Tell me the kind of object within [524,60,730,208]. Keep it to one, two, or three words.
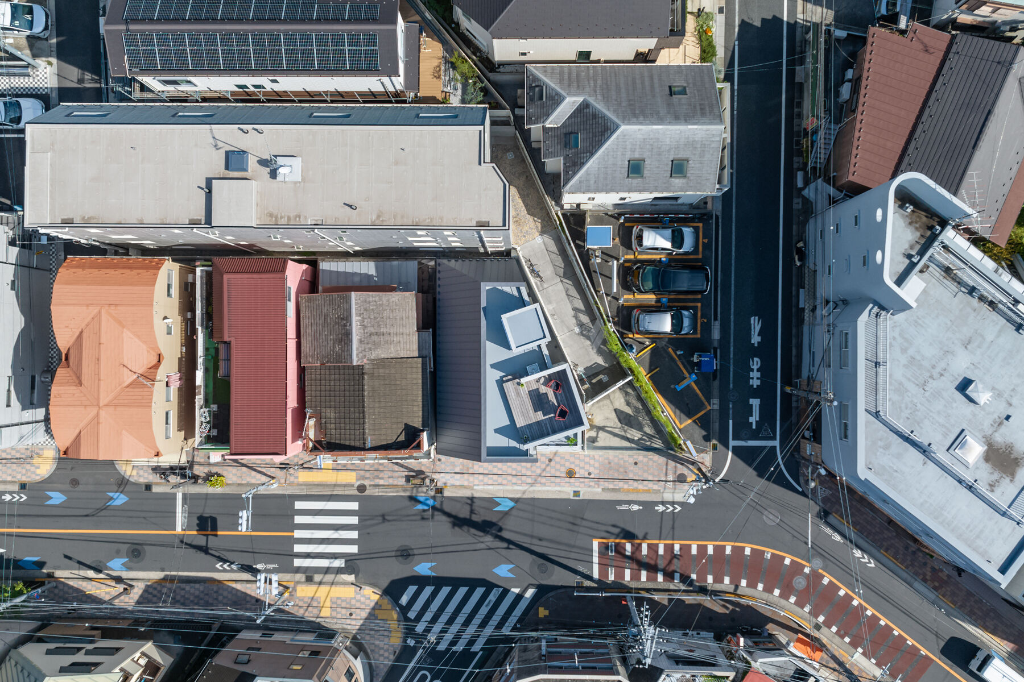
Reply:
house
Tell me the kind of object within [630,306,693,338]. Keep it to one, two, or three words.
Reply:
car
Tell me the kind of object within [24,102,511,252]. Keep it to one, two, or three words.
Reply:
building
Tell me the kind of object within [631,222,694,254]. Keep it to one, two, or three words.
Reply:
car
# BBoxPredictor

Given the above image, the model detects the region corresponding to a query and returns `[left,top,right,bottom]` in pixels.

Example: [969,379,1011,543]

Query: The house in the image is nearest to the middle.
[436,259,591,463]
